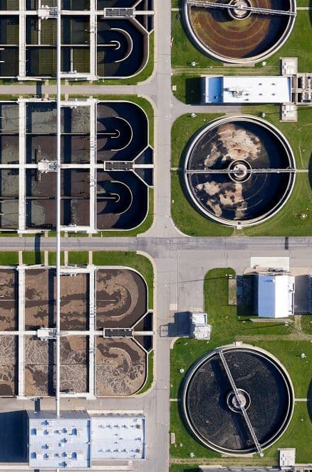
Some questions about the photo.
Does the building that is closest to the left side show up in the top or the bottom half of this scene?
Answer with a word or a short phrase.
bottom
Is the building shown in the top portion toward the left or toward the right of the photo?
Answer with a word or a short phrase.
right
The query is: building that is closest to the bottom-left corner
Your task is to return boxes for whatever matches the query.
[25,409,146,468]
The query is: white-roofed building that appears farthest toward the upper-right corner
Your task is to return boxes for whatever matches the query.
[201,75,292,105]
